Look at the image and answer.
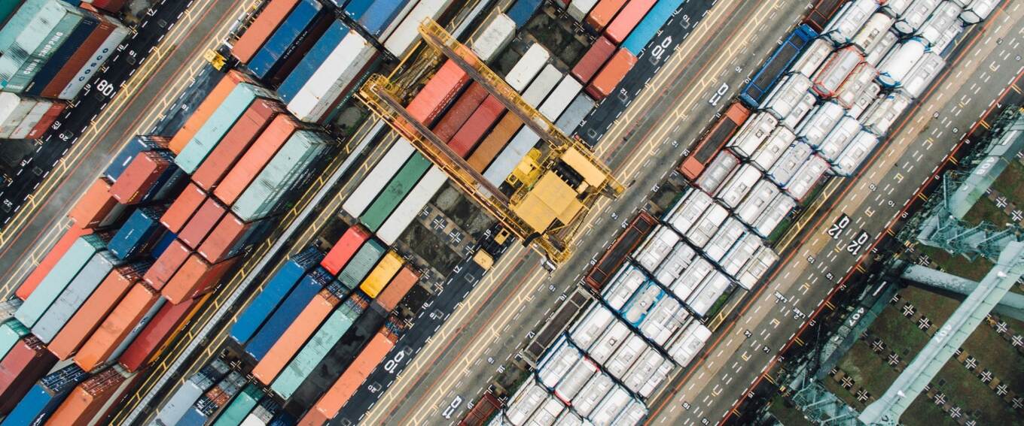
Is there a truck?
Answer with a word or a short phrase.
Yes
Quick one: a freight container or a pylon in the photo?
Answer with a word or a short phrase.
freight container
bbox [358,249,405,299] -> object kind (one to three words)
shipping container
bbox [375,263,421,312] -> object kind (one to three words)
shipping container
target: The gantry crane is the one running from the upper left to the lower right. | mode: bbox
[355,4,634,264]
